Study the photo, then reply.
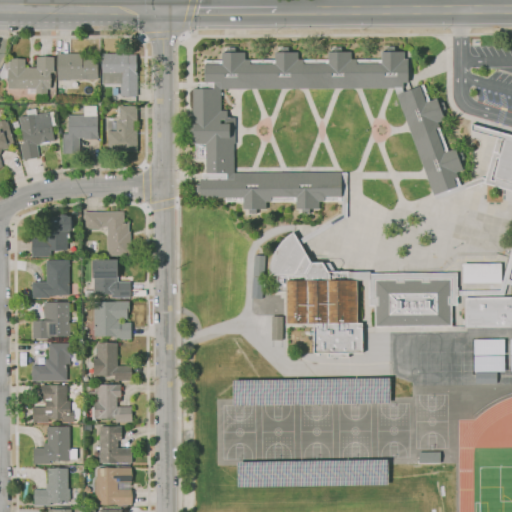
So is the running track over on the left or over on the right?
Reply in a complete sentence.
The running track is on the right side of the image.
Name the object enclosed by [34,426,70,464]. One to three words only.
house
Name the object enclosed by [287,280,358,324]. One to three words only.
building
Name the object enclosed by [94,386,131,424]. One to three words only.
house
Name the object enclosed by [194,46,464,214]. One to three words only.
building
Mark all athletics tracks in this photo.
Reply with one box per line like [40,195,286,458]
[458,394,512,512]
